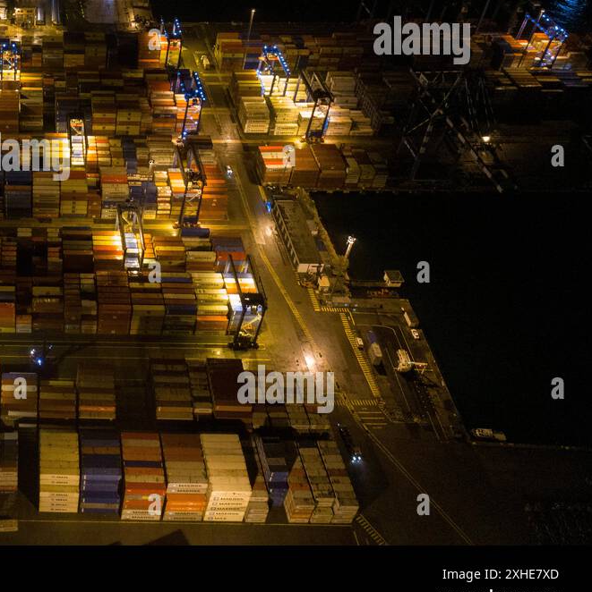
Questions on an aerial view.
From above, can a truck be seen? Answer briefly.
Yes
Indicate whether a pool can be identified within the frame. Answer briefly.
No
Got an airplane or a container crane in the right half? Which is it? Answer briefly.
container crane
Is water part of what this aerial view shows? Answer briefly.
Yes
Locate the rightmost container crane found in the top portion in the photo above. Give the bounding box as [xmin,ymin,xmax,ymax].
[528,17,574,69]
